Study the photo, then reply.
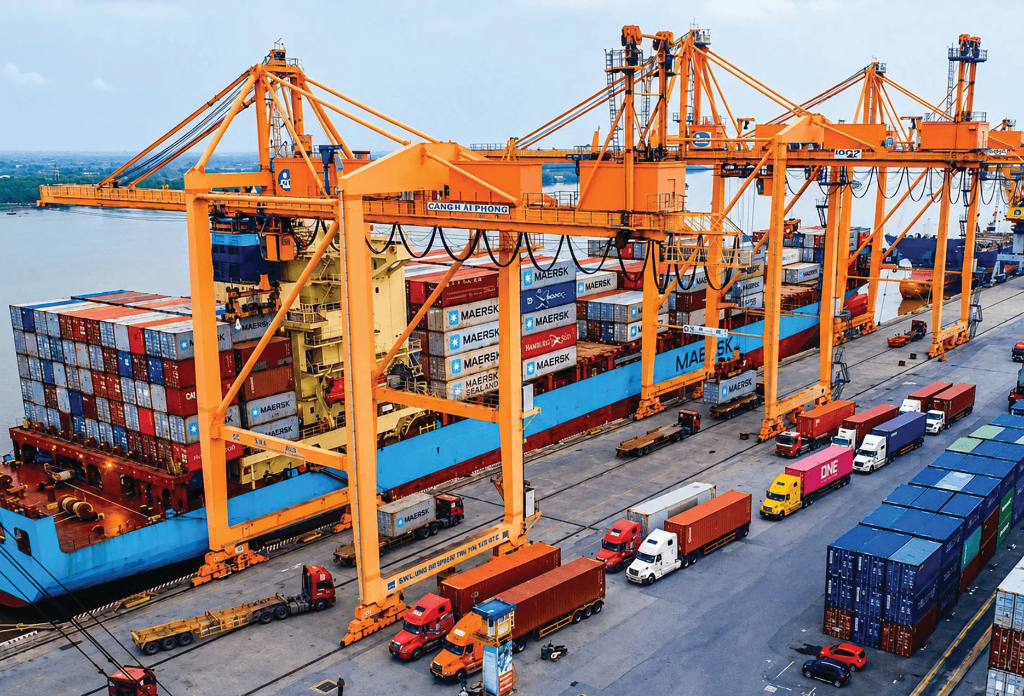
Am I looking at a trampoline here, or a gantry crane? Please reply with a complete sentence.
The image shows a gantry crane.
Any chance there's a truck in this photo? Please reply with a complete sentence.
Yes, there is a truck in the image.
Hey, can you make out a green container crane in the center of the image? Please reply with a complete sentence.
No, I can find no green container crane in the center of the image.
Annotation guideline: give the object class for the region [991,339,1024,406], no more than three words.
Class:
work vehicle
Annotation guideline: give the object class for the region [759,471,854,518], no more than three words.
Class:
truck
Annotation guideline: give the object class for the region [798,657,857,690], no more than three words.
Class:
car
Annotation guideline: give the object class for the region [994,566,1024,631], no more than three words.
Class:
shipping container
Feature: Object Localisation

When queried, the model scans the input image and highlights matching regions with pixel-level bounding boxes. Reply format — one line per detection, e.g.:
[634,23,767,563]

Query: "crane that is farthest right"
[987,149,1024,284]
